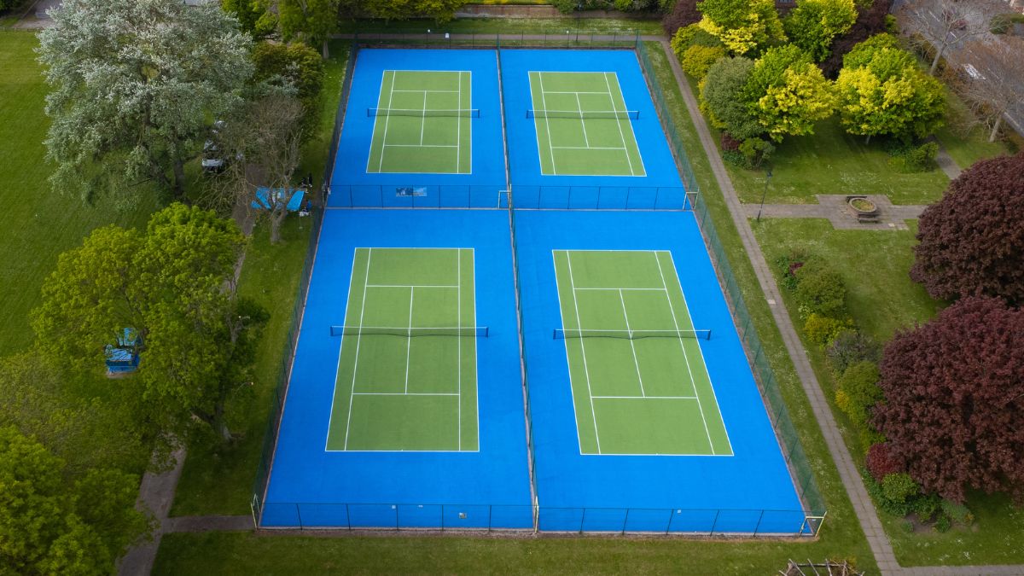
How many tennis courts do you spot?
four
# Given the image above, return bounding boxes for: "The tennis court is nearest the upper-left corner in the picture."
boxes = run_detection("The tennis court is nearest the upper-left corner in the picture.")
[327,48,509,207]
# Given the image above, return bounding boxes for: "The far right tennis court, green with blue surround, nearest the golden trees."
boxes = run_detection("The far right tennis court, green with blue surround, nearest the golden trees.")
[501,48,693,208]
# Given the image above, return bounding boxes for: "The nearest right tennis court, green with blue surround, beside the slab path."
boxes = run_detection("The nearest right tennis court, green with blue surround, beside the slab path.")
[513,209,812,532]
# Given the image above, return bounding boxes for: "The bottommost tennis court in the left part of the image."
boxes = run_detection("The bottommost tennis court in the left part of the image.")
[260,208,534,530]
